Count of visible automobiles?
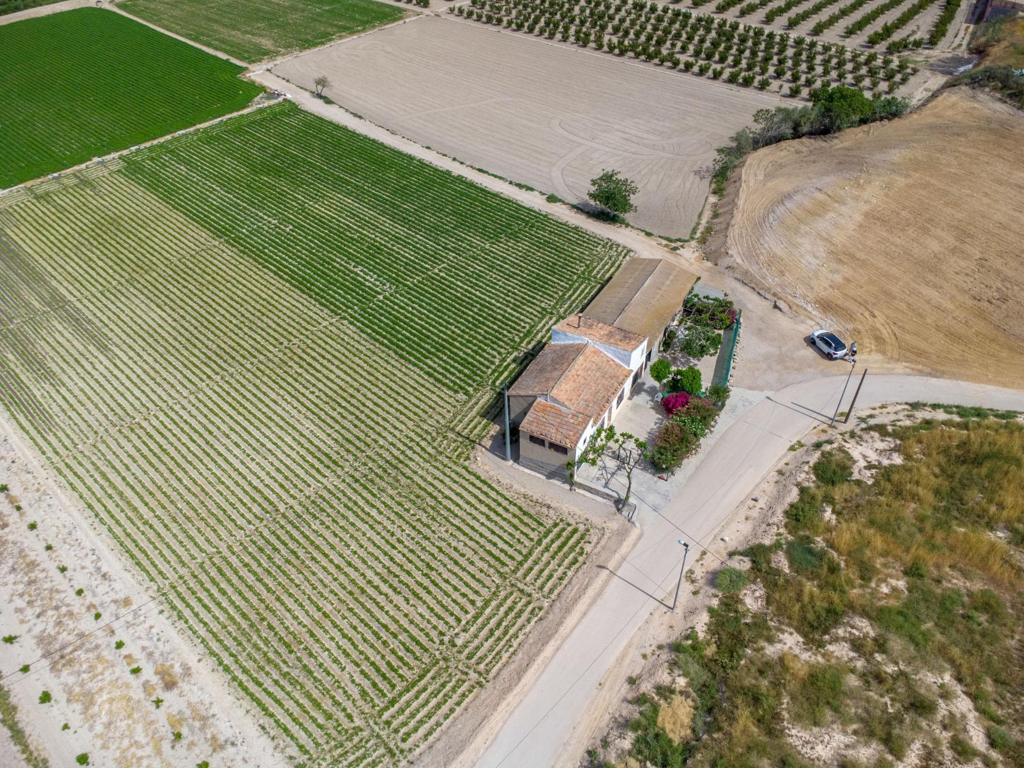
1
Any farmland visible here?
Yes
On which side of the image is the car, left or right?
right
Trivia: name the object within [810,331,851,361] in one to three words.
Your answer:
car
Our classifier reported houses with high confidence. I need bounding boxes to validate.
[981,0,1024,22]
[503,312,651,489]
